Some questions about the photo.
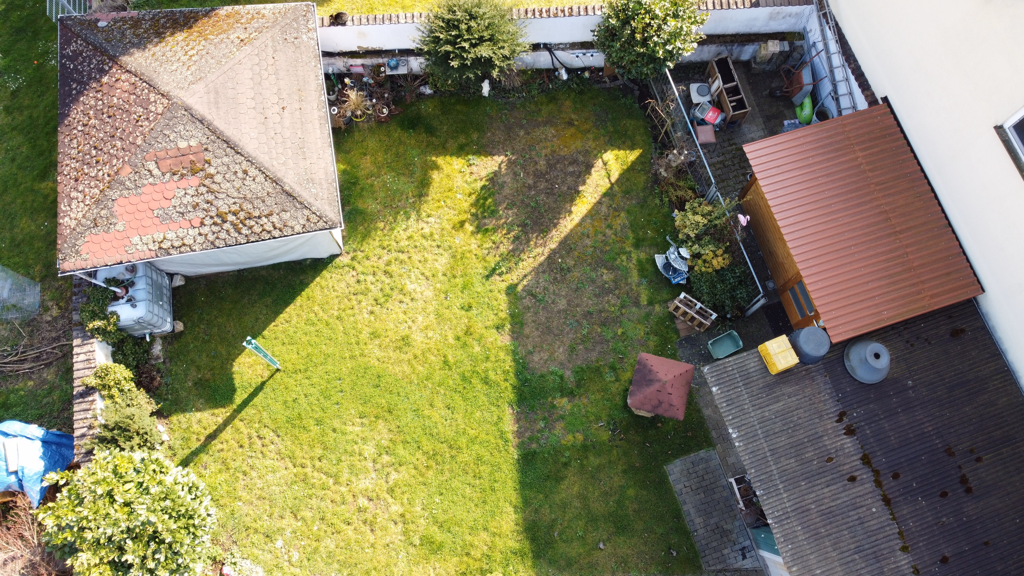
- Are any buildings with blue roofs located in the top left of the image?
No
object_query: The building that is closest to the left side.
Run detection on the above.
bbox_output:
[55,2,346,289]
